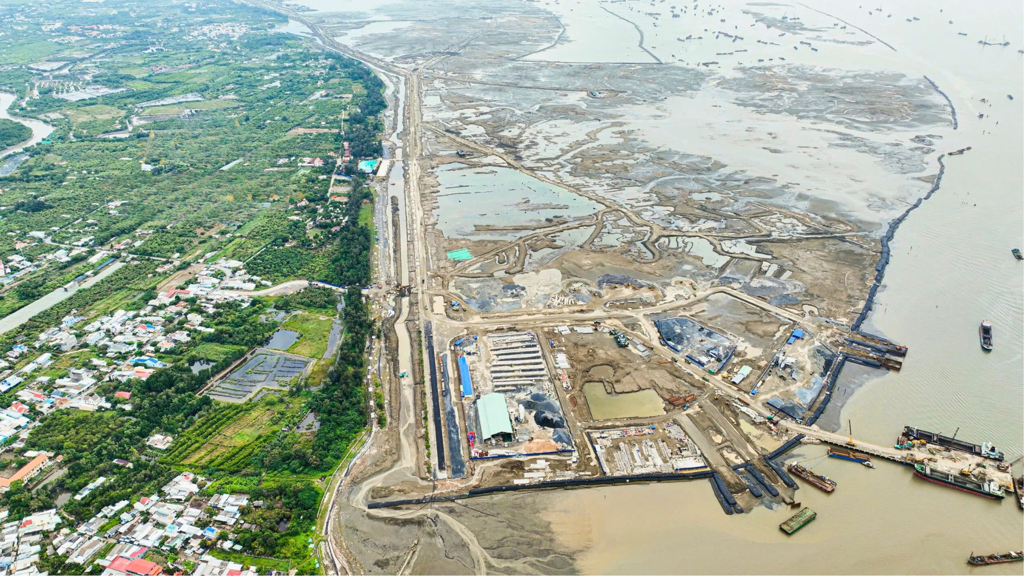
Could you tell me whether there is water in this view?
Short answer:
Yes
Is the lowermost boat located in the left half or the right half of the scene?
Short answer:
right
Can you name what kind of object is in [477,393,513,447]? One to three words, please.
building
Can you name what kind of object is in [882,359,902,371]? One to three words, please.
ship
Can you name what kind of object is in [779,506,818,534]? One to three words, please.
ship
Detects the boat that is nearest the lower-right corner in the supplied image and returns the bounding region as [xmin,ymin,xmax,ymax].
[968,547,1024,568]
